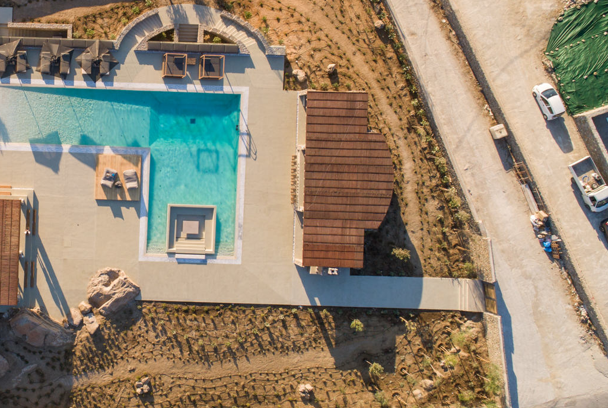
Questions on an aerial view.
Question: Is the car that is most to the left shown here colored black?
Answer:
No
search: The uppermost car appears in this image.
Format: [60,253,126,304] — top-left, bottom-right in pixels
[531,78,570,123]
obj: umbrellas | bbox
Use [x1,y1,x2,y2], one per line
[36,42,74,79]
[0,40,31,79]
[76,41,119,82]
